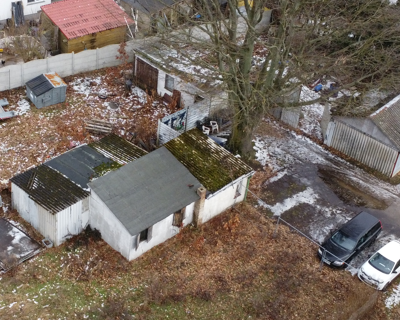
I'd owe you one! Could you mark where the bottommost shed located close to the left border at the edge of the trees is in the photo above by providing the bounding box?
[9,134,148,244]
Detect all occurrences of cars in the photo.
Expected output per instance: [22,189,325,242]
[357,236,400,290]
[316,210,386,271]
